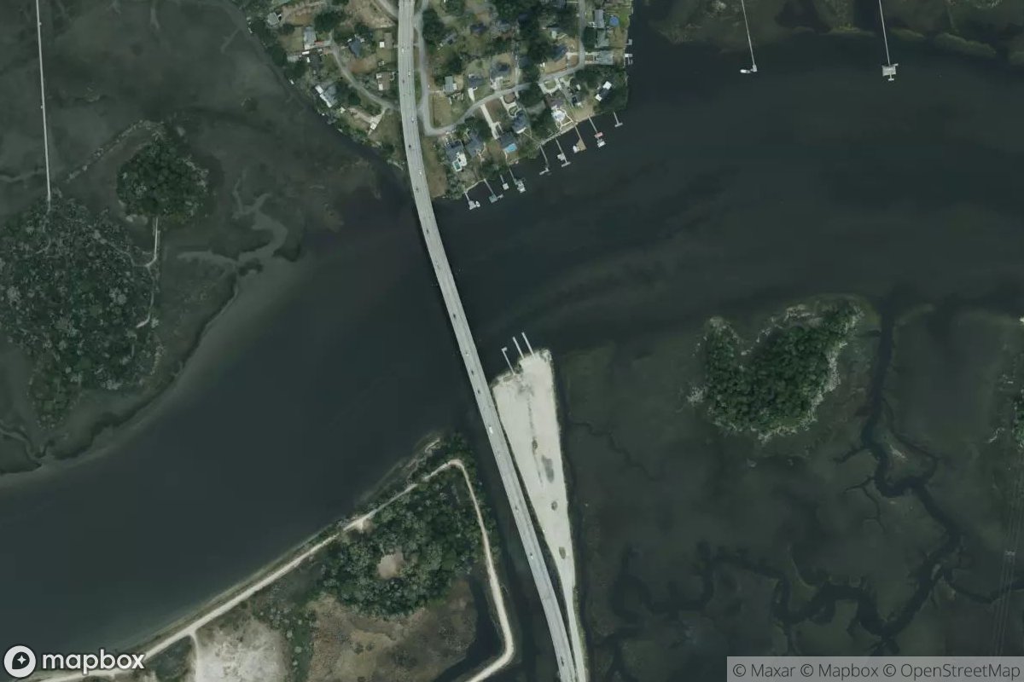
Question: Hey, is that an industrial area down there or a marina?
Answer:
marina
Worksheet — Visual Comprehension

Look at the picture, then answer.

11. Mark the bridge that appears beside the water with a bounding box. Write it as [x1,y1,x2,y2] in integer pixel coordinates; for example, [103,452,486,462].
[399,0,578,682]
